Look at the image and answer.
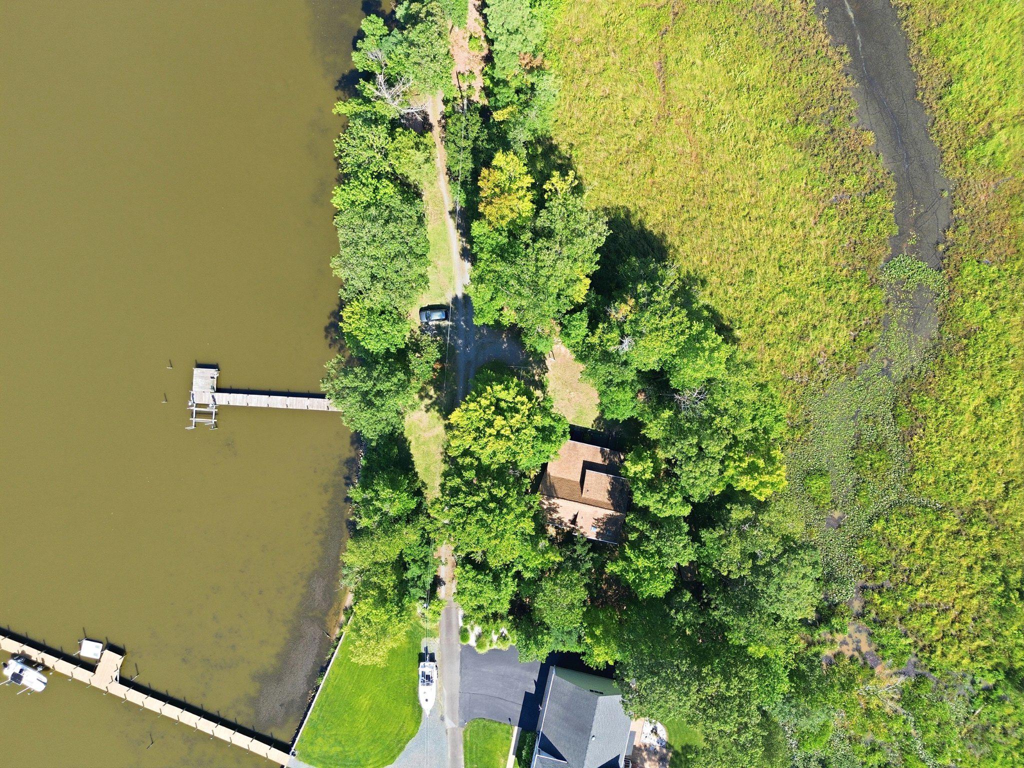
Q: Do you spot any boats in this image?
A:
Yes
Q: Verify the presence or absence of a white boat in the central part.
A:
No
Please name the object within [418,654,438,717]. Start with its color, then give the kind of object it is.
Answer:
white boat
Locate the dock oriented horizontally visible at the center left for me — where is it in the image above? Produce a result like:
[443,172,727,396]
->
[187,368,365,413]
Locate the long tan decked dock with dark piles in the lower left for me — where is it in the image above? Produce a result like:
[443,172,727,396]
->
[0,635,292,766]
